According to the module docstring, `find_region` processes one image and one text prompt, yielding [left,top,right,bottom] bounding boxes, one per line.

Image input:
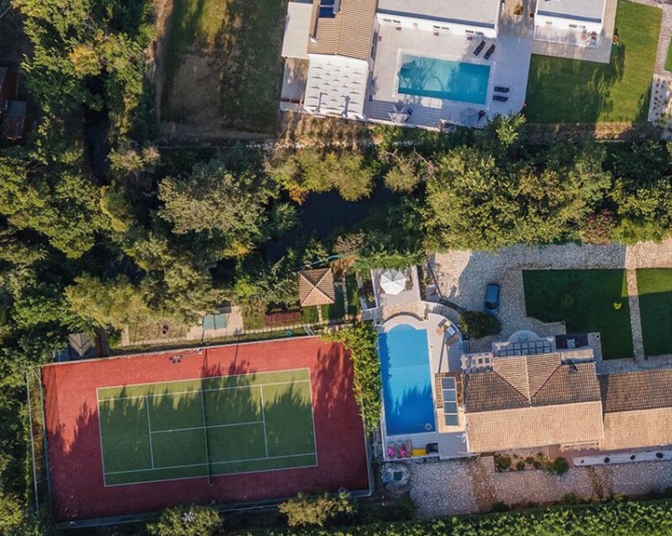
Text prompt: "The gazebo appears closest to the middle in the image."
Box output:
[298,269,338,307]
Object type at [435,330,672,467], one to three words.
house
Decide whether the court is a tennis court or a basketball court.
tennis court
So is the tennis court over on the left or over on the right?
left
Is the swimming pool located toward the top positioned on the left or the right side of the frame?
right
